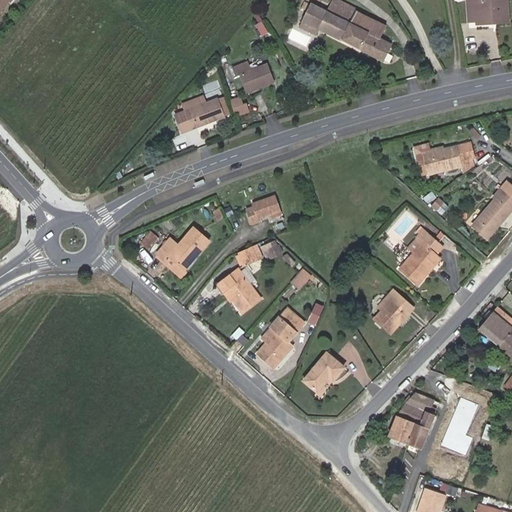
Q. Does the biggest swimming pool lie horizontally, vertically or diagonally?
diagonally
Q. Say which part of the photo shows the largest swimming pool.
right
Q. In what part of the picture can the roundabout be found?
left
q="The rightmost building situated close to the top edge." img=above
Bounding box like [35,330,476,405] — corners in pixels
[456,0,509,28]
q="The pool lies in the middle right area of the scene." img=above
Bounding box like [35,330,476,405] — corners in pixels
[393,214,415,238]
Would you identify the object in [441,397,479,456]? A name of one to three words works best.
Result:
building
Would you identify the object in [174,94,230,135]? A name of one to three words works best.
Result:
house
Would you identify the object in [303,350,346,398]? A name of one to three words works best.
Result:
house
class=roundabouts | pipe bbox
[36,206,110,271]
